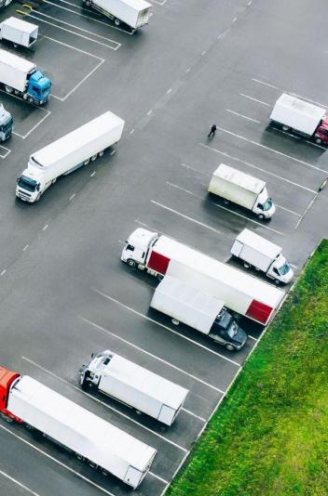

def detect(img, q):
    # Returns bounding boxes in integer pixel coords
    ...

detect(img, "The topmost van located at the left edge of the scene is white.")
[0,16,39,51]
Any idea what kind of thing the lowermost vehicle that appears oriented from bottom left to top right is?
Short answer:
truck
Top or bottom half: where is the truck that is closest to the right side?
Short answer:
top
